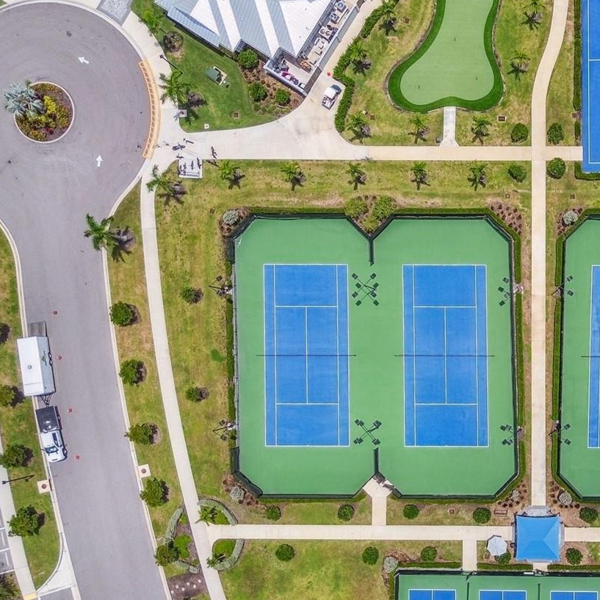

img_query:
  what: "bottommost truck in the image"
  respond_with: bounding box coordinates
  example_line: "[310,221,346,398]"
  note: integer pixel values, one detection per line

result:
[37,408,65,462]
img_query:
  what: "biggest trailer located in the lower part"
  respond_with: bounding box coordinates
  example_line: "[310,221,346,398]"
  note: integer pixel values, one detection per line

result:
[16,322,52,404]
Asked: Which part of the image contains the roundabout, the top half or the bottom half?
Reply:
top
